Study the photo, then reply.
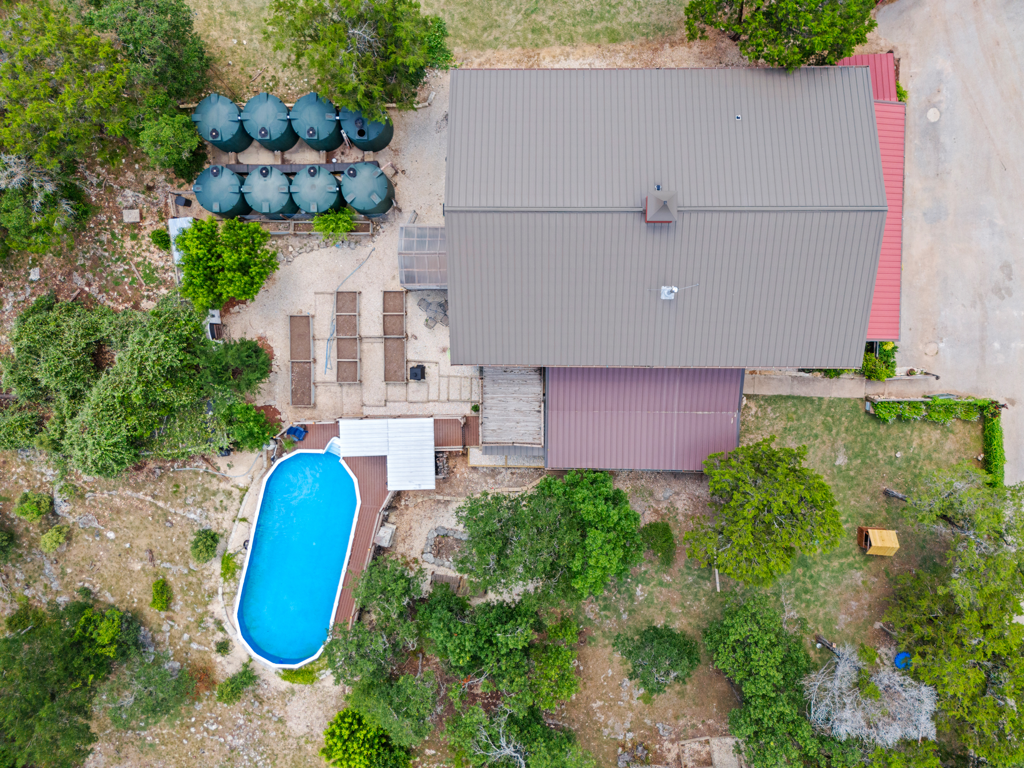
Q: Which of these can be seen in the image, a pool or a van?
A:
pool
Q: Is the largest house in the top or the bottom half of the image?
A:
top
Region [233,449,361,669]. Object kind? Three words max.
swimming pool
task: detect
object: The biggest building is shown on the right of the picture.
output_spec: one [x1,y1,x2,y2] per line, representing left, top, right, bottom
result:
[445,52,911,473]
